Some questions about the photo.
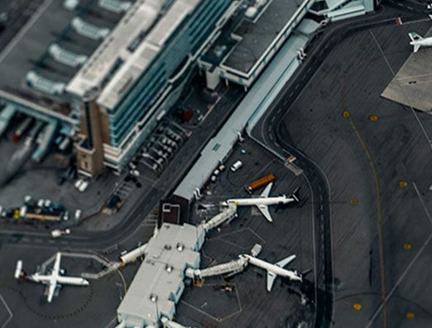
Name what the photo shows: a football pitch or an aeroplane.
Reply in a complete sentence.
Of the two, only an aeroplane appears.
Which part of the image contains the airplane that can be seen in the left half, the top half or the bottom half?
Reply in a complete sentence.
You can find the airplane that can be seen in the left half in the bottom half.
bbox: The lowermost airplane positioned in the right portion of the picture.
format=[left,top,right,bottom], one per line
[239,254,307,289]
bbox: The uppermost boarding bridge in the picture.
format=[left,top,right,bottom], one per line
[198,200,238,236]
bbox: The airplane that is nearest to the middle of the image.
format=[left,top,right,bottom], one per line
[223,182,295,221]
